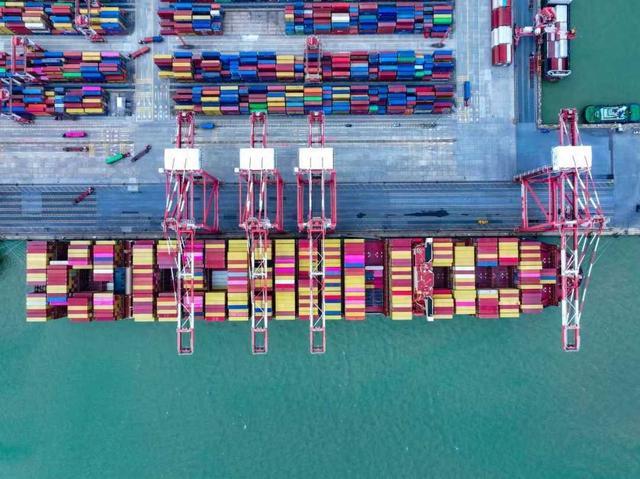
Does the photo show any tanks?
No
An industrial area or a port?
port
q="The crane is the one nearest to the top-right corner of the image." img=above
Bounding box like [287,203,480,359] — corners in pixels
[515,9,576,47]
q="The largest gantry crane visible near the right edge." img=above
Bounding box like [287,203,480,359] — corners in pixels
[510,111,609,356]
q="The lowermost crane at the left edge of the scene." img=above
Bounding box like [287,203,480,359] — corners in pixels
[0,71,35,122]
